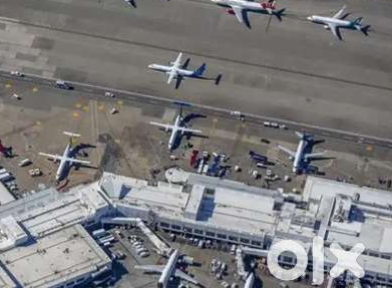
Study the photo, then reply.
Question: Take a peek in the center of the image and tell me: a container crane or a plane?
plane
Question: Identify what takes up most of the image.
paved ground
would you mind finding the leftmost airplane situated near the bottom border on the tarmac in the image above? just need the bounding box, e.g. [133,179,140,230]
[132,251,197,288]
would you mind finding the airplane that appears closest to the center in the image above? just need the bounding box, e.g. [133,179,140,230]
[150,102,202,148]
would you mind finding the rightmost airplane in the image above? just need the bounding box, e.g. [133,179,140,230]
[307,6,364,35]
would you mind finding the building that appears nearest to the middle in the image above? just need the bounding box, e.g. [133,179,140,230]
[101,168,278,250]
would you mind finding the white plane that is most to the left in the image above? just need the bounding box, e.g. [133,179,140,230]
[39,131,91,180]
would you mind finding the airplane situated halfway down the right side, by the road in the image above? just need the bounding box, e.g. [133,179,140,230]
[276,127,326,175]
